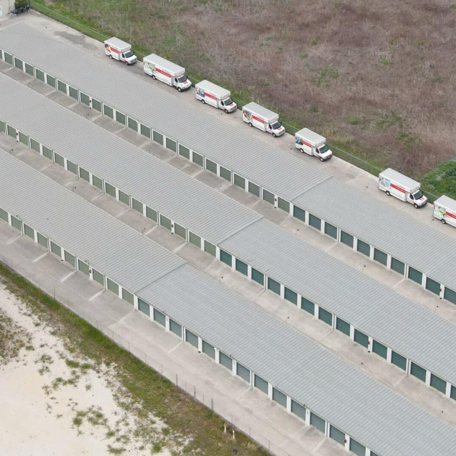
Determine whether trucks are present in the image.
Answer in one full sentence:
Yes, a truck can be made out from above.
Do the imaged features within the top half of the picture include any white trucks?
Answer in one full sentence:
Yes, a white truck shows up within the top half of the picture.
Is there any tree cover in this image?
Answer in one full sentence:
No, the scene doesn't show any tree cover.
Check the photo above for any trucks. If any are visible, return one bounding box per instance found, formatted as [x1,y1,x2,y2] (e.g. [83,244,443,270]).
[374,168,428,209]
[428,195,456,229]
[290,128,333,162]
[193,80,236,114]
[103,36,138,65]
[142,54,191,91]
[239,103,285,138]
